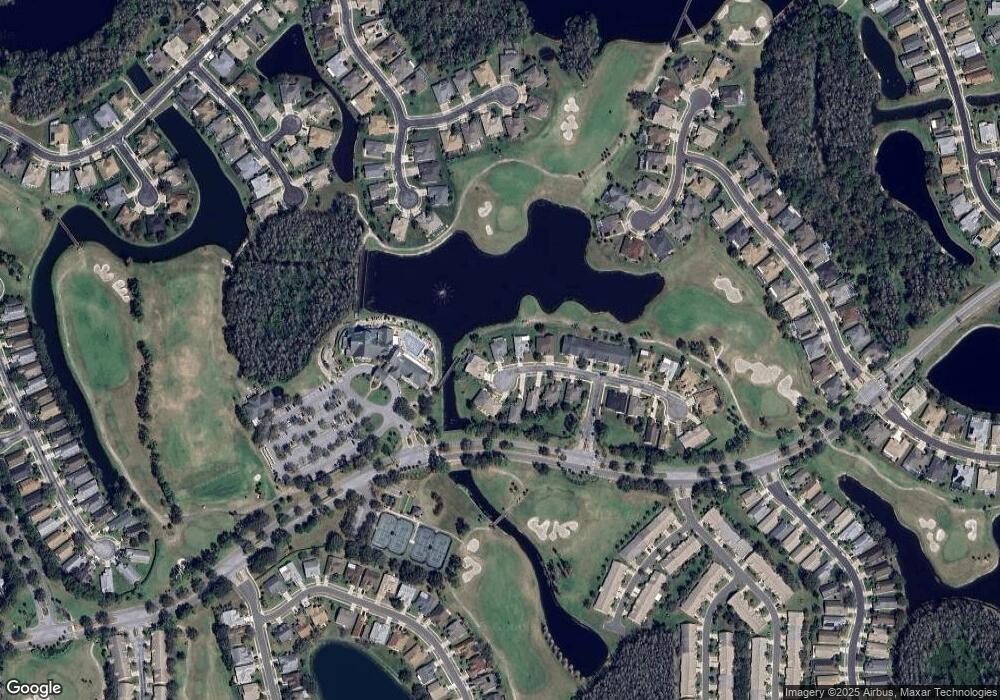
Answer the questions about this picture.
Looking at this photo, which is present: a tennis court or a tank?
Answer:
tennis court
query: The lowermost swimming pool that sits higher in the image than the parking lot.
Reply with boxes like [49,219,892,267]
[394,322,439,362]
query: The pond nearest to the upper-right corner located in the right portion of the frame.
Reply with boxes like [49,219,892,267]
[860,17,906,100]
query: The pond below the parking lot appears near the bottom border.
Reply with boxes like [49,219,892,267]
[312,640,410,700]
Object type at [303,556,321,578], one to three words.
house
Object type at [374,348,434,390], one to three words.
building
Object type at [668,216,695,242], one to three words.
house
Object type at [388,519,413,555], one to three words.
tennis court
